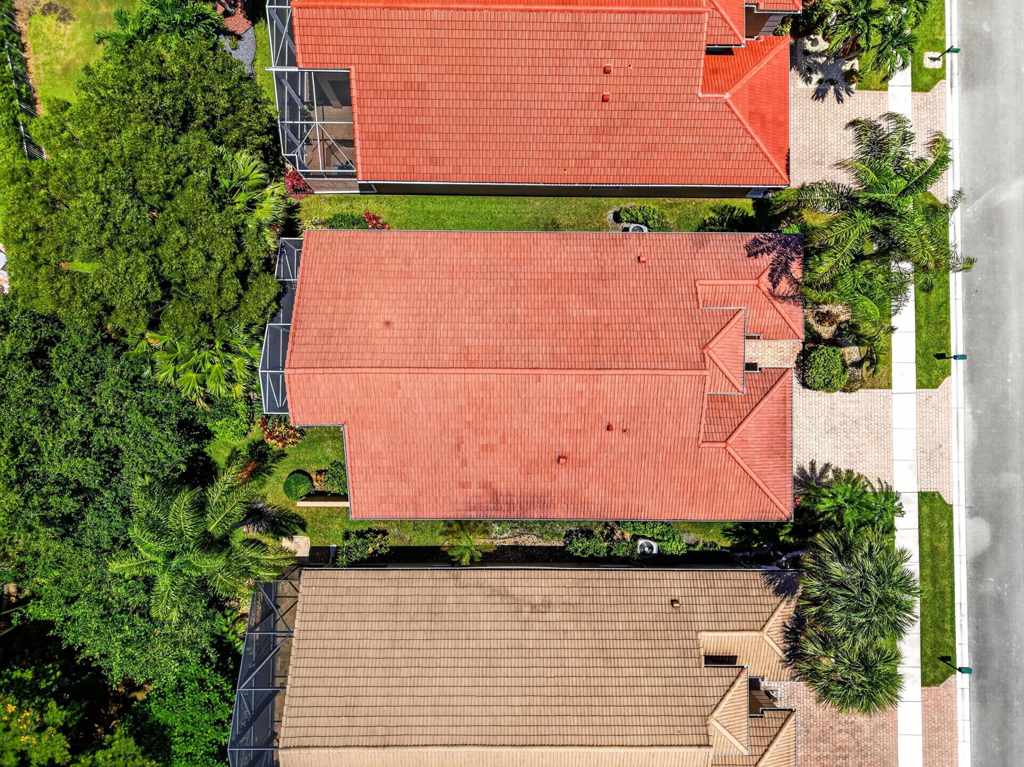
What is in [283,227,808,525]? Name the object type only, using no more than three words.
house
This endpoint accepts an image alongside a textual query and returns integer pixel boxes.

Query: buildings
[275,538,808,767]
[283,227,808,525]
[291,0,810,201]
